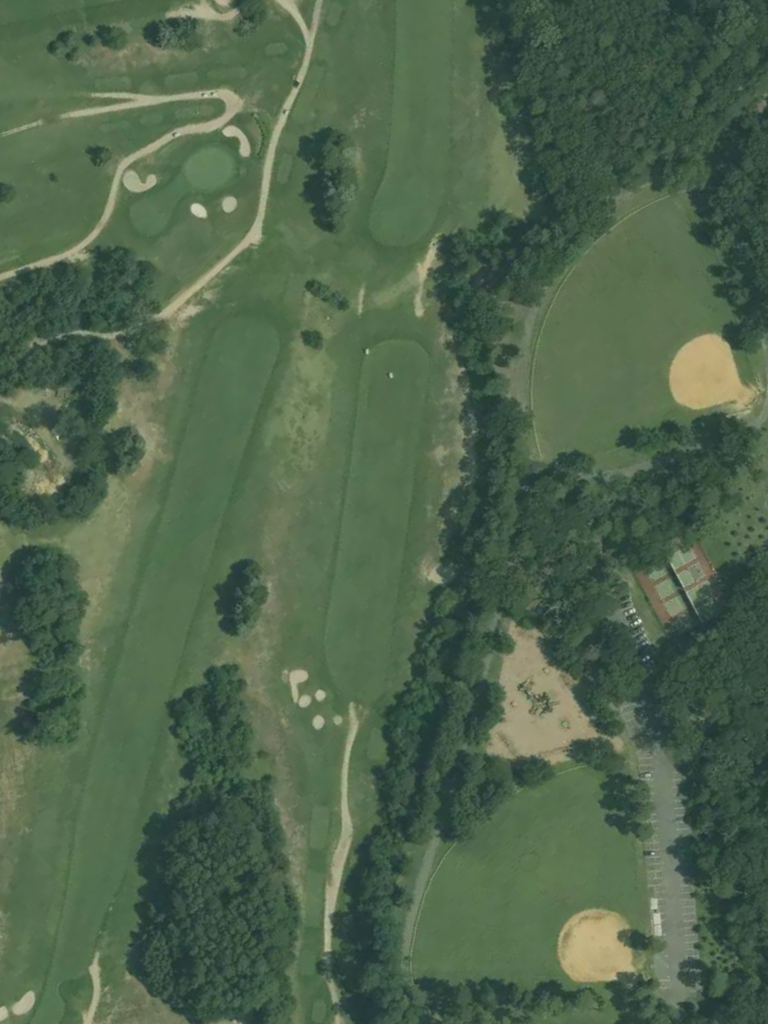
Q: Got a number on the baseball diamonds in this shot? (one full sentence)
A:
Altogether the scene contains 2 baseball diamonds.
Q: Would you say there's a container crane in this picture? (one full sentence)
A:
No, I can't see a single container crane in this photo.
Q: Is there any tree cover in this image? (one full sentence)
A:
Yes, there's tree cover in this view.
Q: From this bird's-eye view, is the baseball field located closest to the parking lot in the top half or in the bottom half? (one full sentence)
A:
The baseball field located closest to the parking lot sits in the bottom half of the picture.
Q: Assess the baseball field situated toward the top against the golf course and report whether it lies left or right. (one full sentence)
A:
Relative to the golf course, the baseball field situated toward the top lies to the right.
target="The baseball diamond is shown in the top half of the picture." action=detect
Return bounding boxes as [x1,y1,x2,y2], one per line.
[532,191,761,459]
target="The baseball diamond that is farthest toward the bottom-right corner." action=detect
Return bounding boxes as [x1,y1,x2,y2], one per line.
[411,764,647,998]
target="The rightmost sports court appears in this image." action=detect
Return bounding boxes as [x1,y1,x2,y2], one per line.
[640,539,721,623]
